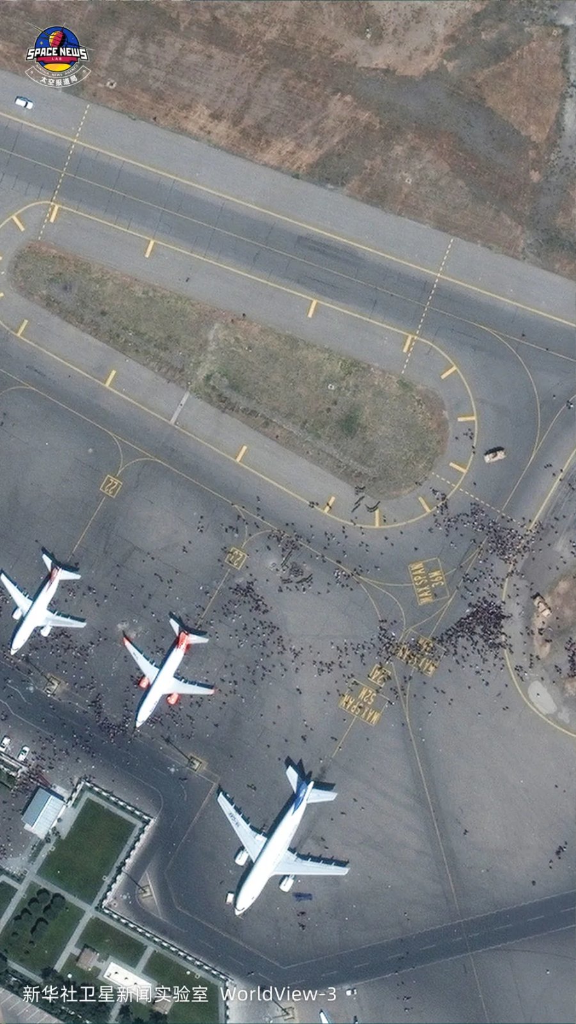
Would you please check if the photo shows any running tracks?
No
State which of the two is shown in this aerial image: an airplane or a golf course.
airplane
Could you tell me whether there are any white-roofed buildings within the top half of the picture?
No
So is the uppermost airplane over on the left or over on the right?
left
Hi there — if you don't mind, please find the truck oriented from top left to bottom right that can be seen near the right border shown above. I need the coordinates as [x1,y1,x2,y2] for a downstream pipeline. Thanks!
[530,591,552,619]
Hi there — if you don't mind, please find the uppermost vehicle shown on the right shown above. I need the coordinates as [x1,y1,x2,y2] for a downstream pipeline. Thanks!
[483,448,504,463]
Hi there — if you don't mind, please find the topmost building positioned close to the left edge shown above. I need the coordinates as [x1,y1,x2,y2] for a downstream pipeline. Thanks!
[22,787,68,840]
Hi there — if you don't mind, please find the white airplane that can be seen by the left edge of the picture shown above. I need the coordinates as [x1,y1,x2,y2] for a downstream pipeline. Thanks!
[3,552,84,654]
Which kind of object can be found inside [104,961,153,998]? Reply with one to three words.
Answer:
building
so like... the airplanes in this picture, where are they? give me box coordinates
[122,616,213,728]
[3,552,84,654]
[316,1010,330,1024]
[219,766,348,916]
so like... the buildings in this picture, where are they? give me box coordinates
[154,994,173,1014]
[22,787,68,840]
[104,961,153,998]
[77,948,97,970]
